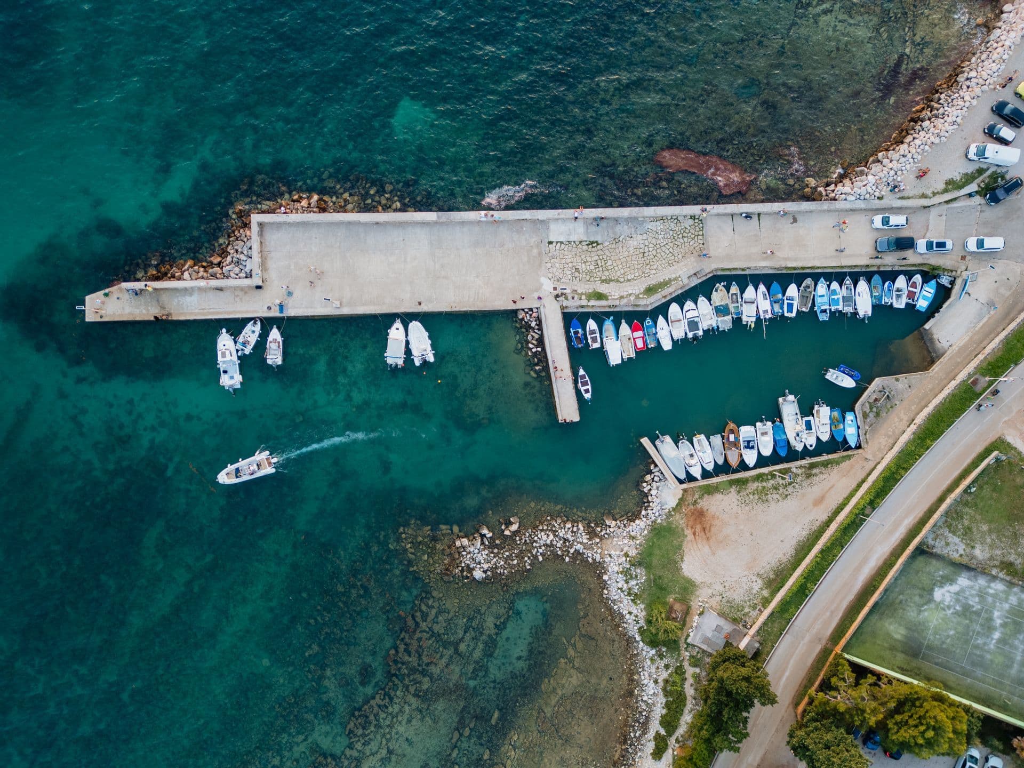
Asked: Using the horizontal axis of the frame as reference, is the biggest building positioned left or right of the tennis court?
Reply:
left of it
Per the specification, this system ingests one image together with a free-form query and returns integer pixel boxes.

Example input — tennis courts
[840,543,1024,726]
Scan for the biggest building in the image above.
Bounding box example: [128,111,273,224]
[686,602,757,654]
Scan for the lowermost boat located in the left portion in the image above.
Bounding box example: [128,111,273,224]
[217,451,280,485]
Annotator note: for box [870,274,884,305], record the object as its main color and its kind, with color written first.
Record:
blue boat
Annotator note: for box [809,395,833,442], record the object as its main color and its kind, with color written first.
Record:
white boat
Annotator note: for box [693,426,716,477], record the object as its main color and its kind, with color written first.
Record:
white boat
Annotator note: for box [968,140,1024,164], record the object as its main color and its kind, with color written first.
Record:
white vehicle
